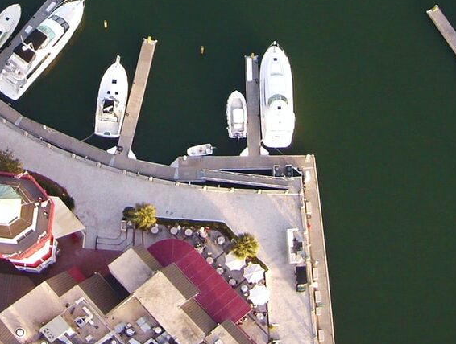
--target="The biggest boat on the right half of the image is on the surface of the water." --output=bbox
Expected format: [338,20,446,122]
[259,38,292,153]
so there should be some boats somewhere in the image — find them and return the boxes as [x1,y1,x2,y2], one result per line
[0,0,83,105]
[96,54,128,141]
[227,93,247,144]
[259,38,292,153]
[189,145,217,158]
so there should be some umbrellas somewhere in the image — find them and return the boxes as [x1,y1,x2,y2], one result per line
[222,250,244,276]
[241,259,265,285]
[247,281,270,308]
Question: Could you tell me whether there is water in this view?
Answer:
Yes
